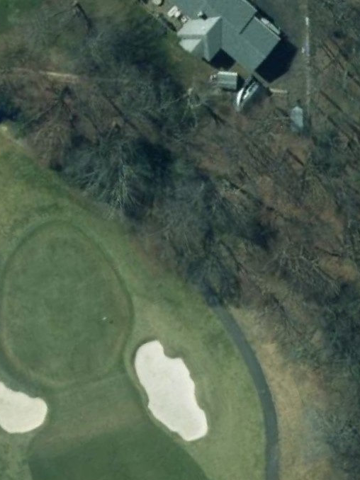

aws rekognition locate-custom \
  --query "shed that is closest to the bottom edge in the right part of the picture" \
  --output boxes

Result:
[218,70,237,88]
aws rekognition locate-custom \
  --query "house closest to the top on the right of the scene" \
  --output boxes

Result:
[173,0,280,70]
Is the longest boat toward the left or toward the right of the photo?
right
